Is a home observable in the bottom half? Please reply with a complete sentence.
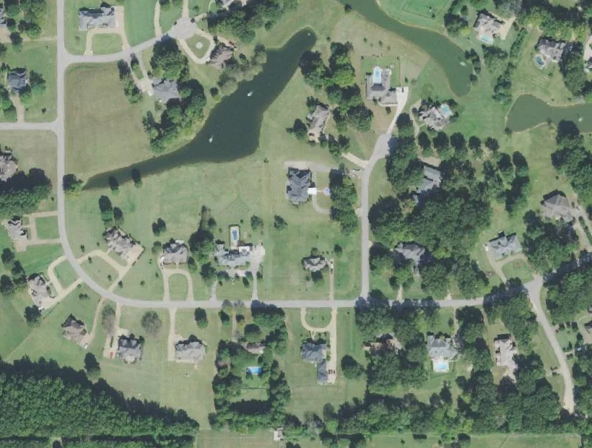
Yes, a home shows up in the bottom half.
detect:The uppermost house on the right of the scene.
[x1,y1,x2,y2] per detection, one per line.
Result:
[472,11,505,41]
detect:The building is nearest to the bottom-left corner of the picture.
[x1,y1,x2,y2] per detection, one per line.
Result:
[59,316,87,345]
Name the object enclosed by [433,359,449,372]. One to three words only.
swimming pool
